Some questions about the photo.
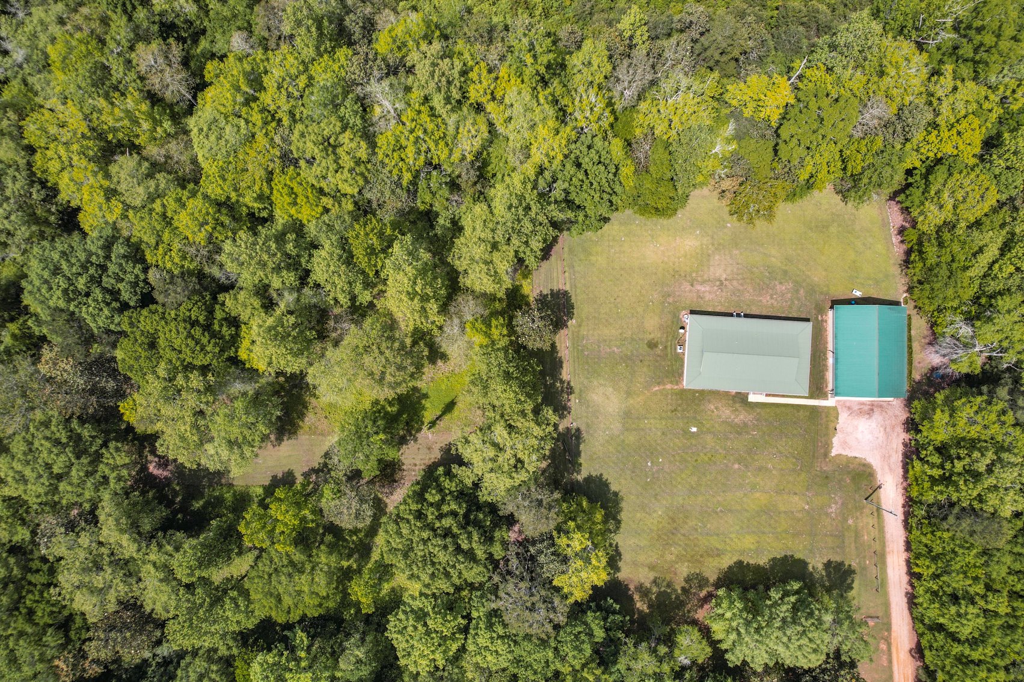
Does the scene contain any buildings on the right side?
Yes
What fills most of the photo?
trees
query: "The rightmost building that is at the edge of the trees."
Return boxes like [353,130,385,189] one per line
[825,305,907,398]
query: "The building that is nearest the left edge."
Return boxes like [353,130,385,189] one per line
[683,314,813,396]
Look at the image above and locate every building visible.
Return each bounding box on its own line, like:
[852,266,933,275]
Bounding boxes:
[825,305,907,398]
[683,314,813,396]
